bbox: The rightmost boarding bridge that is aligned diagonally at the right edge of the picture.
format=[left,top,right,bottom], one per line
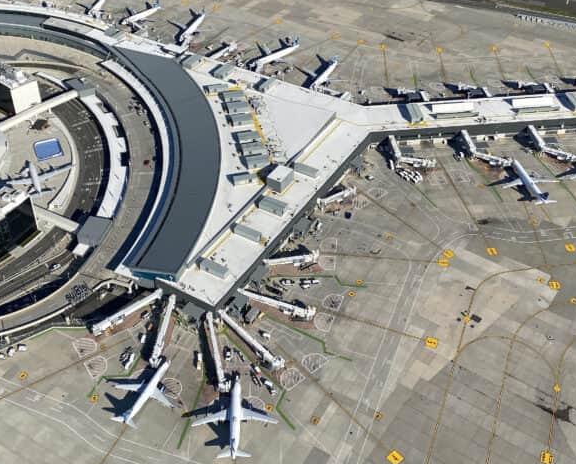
[528,128,576,168]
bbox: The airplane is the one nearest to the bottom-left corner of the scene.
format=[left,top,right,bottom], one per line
[113,363,178,429]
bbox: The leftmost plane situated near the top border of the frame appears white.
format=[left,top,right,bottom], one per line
[83,0,115,12]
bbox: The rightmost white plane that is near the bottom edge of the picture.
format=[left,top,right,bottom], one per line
[193,377,277,460]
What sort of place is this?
airport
